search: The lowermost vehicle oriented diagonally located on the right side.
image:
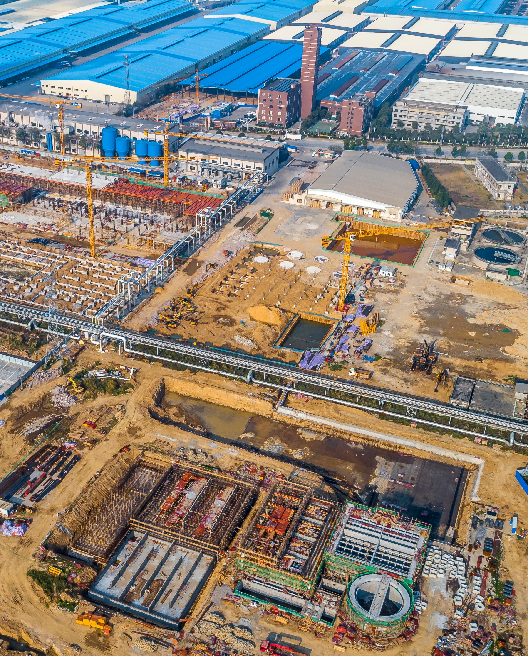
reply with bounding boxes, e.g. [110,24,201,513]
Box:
[433,370,447,391]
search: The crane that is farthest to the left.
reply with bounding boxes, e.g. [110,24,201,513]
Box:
[0,93,81,168]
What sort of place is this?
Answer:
industrial area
